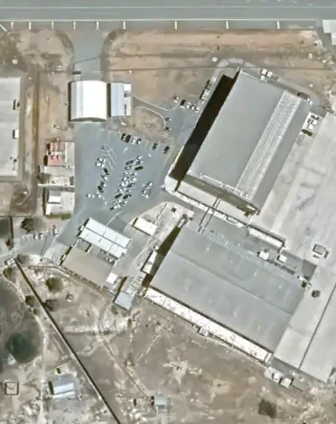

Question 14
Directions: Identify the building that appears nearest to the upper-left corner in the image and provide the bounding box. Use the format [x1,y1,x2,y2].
[72,80,106,121]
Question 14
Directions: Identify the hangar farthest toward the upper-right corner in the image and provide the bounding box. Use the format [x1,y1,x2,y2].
[188,71,310,214]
